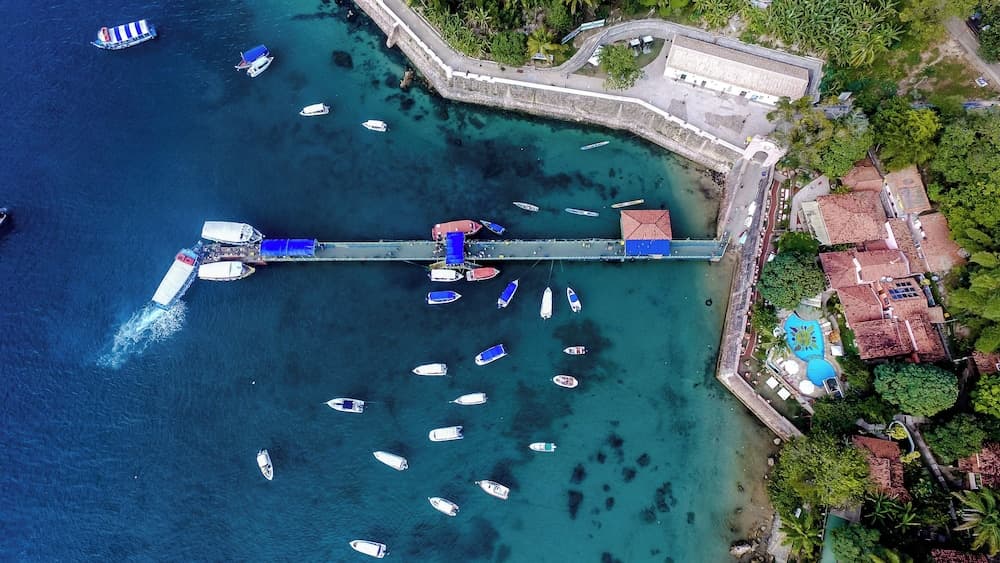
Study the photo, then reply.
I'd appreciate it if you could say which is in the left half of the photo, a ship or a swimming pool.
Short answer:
ship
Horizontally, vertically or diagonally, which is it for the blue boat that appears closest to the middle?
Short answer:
diagonally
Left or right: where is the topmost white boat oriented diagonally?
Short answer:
left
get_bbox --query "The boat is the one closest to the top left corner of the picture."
[85,21,160,48]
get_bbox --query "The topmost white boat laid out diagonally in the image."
[247,57,273,78]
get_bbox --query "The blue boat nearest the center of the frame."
[495,279,520,310]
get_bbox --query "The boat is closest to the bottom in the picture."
[350,541,390,558]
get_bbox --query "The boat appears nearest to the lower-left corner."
[256,446,271,480]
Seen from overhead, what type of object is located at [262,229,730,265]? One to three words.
pier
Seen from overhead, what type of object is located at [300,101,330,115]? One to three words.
boat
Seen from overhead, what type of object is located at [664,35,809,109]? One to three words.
building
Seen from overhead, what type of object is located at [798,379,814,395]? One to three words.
umbrella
